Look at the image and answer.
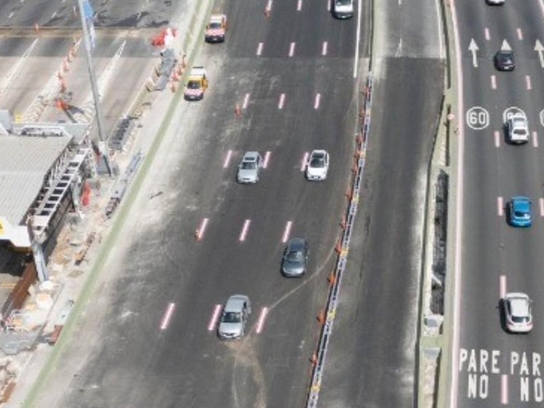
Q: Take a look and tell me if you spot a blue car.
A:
Yes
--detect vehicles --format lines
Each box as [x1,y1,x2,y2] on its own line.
[282,235,312,275]
[506,113,530,140]
[506,193,534,223]
[306,141,333,177]
[494,49,515,70]
[219,287,253,335]
[332,0,355,15]
[205,7,228,39]
[237,144,265,179]
[504,286,536,329]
